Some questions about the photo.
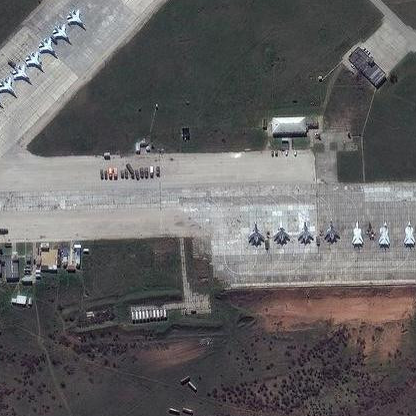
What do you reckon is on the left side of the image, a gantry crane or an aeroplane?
aeroplane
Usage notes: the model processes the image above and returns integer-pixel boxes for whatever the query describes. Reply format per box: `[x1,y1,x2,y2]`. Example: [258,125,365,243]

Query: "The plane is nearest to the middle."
[248,222,264,245]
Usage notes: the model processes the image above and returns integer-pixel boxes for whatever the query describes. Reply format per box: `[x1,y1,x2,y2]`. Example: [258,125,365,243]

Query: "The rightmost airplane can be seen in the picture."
[404,223,416,245]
